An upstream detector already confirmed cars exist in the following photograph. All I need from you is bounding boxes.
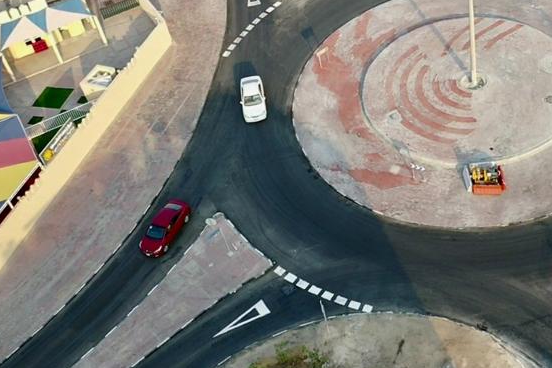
[138,198,192,258]
[238,77,268,123]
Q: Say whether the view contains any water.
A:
No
